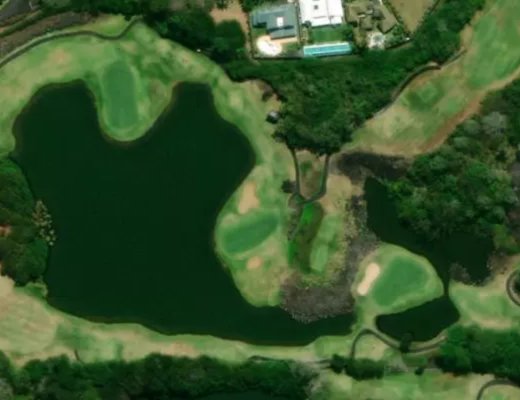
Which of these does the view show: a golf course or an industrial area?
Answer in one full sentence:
The picture captures a golf course.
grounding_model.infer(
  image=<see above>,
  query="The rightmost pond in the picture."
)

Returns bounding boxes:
[362,176,495,341]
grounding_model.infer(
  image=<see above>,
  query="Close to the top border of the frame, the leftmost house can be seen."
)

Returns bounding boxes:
[250,1,298,40]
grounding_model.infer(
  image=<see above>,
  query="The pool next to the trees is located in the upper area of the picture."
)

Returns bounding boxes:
[303,42,351,57]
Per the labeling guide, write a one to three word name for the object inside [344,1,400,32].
house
